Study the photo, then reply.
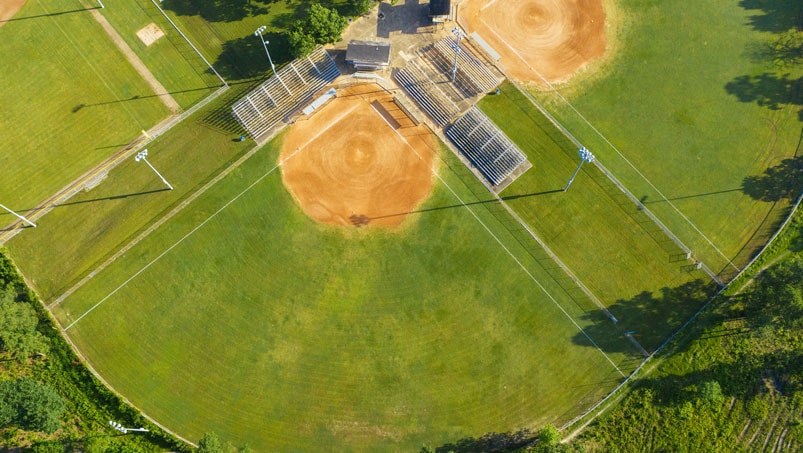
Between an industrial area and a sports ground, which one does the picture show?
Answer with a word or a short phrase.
sports ground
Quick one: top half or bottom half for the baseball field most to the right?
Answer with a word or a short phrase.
top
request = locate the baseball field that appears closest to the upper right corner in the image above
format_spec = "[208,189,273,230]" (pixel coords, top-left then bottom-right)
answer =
[462,0,803,284]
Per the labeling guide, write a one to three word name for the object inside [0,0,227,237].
baseball field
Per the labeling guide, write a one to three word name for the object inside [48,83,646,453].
baseball field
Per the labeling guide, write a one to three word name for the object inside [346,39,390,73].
building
